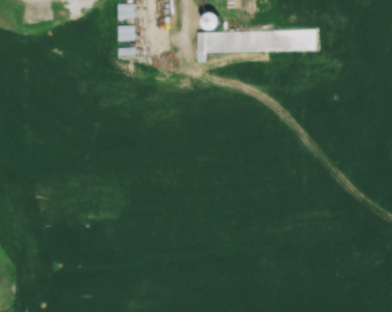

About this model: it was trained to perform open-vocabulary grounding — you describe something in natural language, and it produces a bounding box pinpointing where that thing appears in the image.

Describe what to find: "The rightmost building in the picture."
[204,29,318,54]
